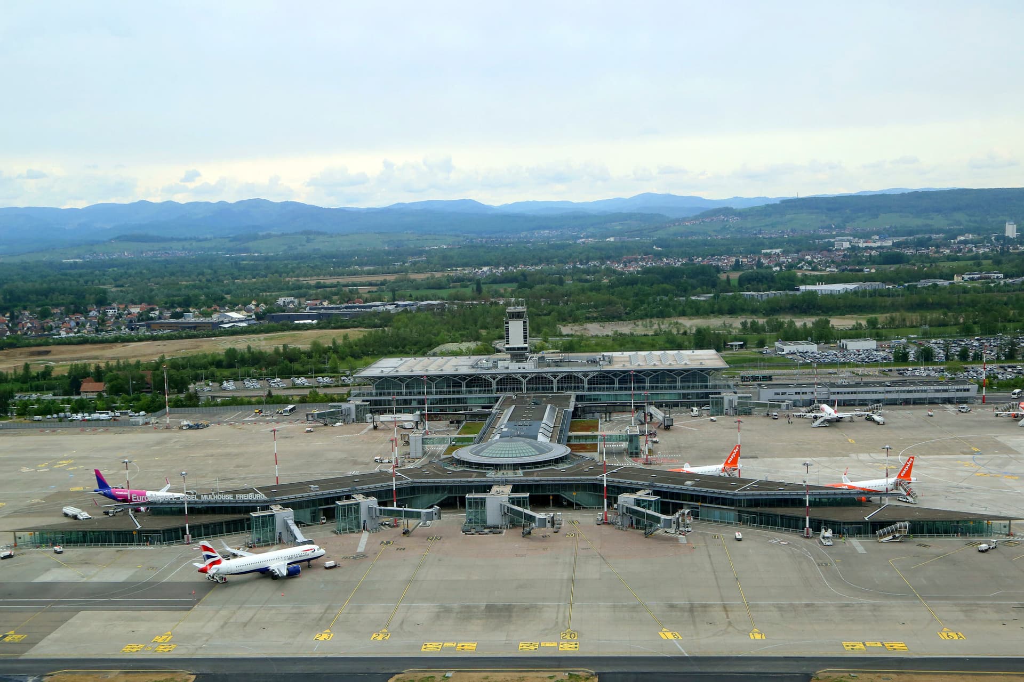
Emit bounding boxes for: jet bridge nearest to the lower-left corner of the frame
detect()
[286,512,321,549]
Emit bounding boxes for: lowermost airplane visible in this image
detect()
[195,540,324,581]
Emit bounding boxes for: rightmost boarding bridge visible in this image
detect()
[733,398,795,417]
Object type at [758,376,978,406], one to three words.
building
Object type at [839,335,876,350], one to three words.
shed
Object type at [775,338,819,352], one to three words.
shed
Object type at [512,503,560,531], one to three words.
jet bridge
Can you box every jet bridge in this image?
[512,503,560,531]
[733,398,795,417]
[618,500,690,534]
[367,411,419,427]
[370,504,442,533]
[646,403,671,427]
[286,512,321,549]
[305,407,345,423]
